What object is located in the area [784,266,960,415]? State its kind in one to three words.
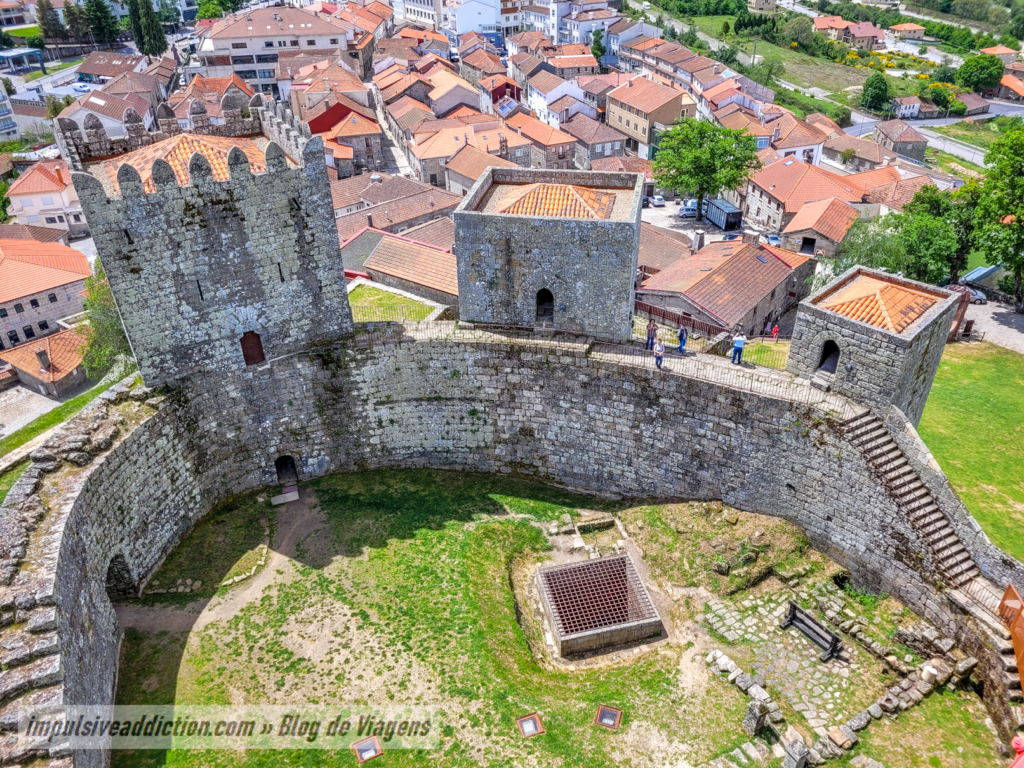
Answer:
building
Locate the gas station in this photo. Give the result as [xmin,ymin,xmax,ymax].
[0,48,54,78]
